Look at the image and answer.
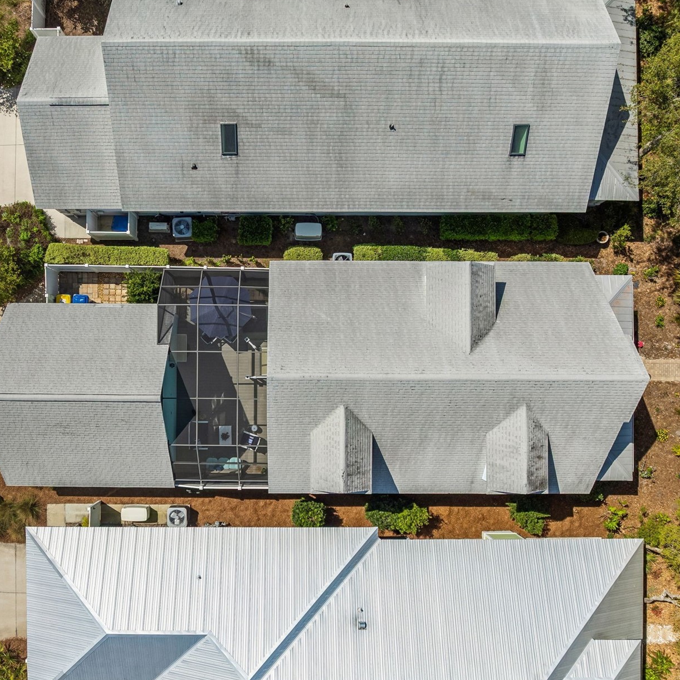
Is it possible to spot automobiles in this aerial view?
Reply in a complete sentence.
No, I find no automobile anywhere in the image.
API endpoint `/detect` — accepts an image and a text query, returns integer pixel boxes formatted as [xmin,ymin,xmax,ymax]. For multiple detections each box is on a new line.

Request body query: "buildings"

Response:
[0,307,177,489]
[267,261,649,494]
[25,526,646,680]
[17,0,640,226]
